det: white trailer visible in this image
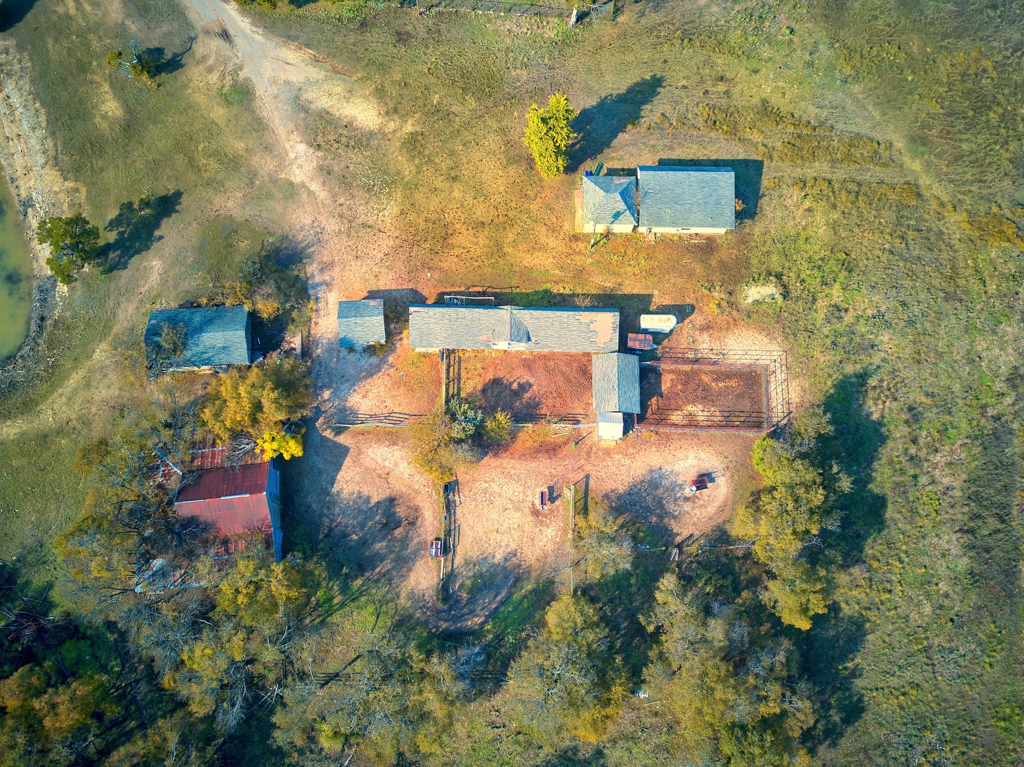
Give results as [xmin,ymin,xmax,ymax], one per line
[637,316,681,336]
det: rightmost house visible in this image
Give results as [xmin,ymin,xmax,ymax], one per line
[636,166,738,247]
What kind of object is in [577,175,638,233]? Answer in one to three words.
house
